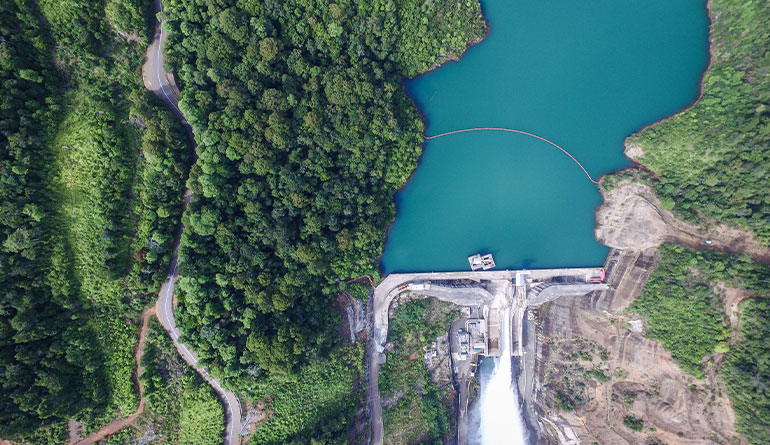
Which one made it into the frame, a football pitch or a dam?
dam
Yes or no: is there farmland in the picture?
No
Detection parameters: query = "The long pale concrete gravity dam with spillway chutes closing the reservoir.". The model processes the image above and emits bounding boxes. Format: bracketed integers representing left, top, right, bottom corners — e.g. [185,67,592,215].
[372,266,611,359]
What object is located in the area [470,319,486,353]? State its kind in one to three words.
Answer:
building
